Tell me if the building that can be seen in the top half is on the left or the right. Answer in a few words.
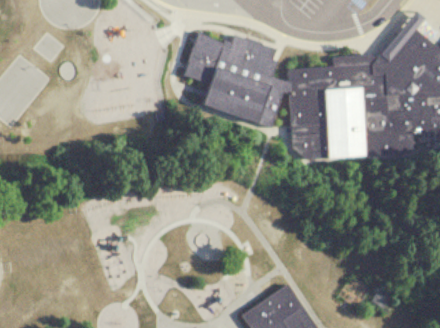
right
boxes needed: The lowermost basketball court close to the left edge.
[0,56,50,126]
